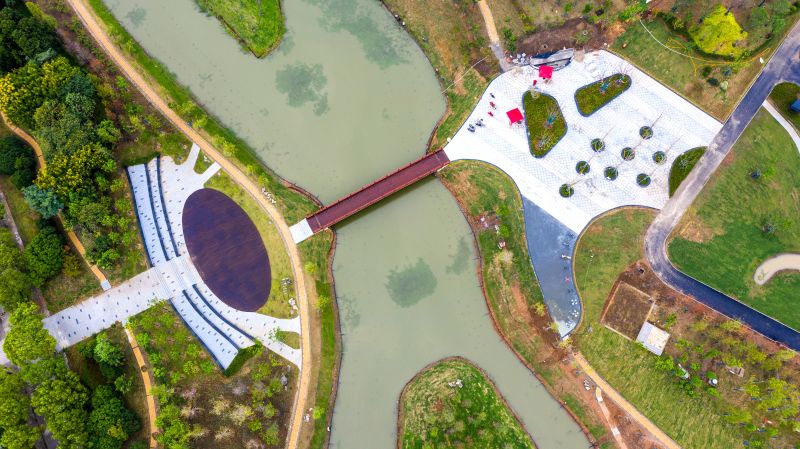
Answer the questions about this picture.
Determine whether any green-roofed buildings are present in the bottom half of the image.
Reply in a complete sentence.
No, no green-roofed building is visible in the bottom half of the image.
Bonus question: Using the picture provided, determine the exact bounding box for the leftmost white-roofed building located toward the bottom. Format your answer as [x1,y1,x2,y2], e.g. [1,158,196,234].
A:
[638,324,670,355]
